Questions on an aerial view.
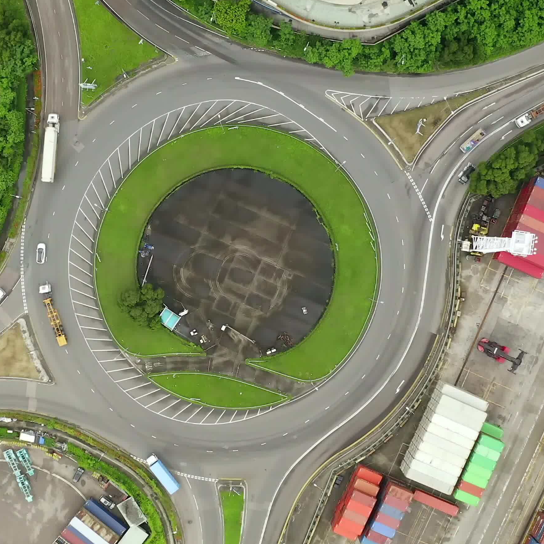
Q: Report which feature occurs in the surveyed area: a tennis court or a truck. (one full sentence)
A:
It is a truck that can be seen here.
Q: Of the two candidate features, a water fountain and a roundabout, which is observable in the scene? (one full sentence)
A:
It is a roundabout that can be seen here.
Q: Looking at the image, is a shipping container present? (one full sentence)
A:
Yes, I can see a shipping container in this picture.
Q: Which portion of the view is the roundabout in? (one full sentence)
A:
The roundabout is in the center part of the image.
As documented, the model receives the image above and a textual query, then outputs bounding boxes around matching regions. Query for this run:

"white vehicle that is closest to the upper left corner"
[48,115,60,141]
